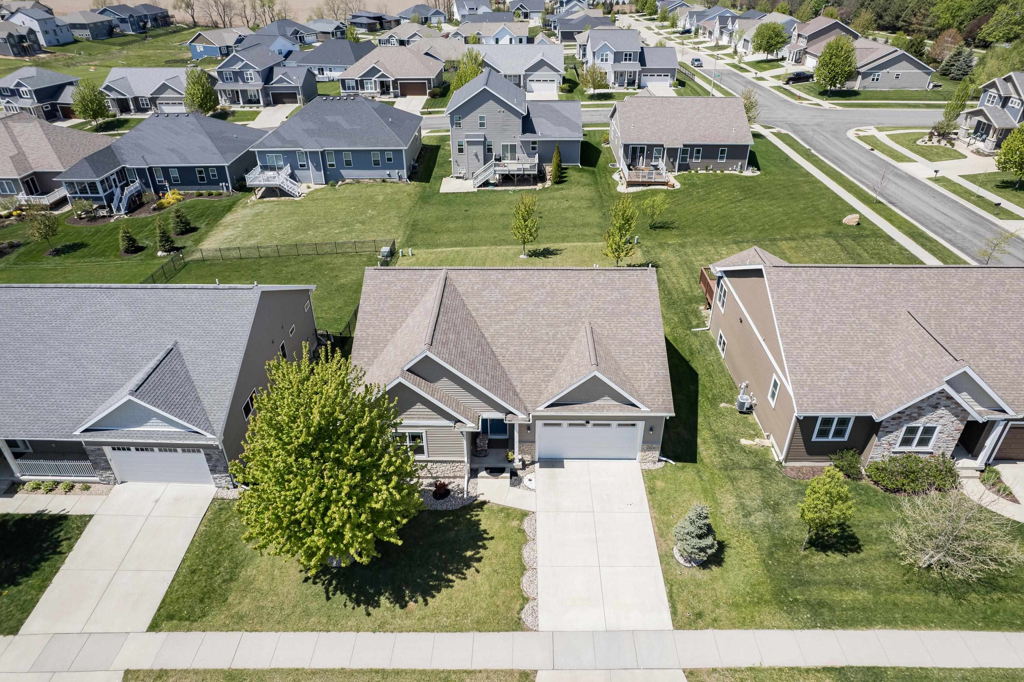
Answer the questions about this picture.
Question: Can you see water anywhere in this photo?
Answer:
No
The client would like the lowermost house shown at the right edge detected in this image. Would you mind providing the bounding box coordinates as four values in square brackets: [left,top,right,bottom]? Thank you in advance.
[692,248,1024,487]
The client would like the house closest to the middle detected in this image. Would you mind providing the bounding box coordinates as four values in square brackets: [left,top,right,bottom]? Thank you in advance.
[349,259,683,491]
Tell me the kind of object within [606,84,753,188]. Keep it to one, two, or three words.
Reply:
house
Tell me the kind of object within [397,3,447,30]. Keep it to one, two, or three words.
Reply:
house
